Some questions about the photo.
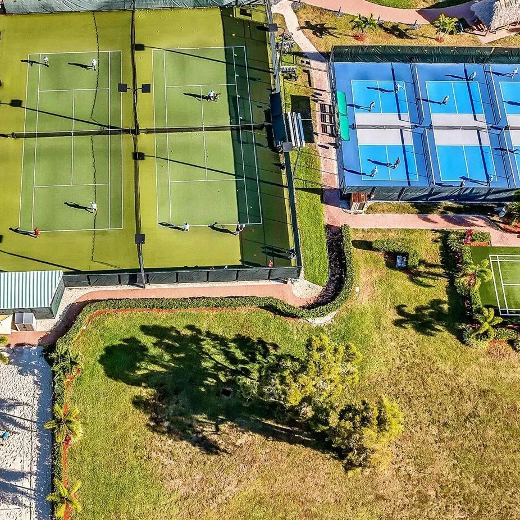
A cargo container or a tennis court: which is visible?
tennis court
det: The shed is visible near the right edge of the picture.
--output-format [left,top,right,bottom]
[467,0,520,45]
